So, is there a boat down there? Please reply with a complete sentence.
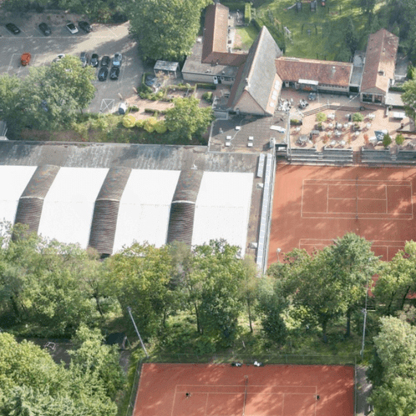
No, I can't see a single boat in this photo.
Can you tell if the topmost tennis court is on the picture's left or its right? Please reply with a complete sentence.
You can find the topmost tennis court on the right side of the picture.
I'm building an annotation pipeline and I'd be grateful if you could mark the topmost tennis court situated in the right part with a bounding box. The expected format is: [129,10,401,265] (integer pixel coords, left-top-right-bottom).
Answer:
[270,164,416,230]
